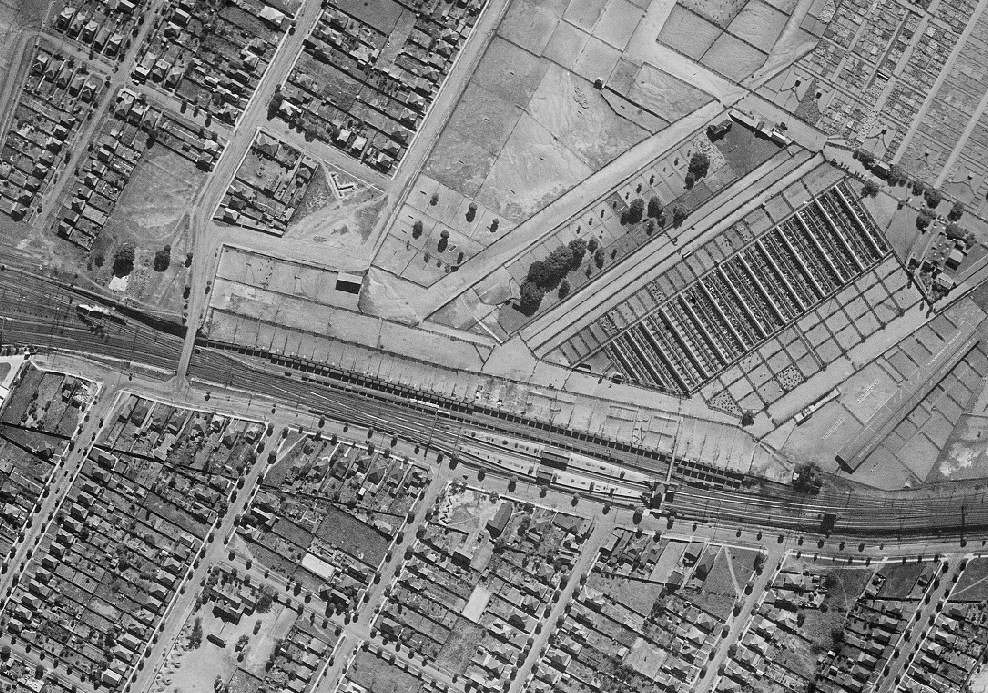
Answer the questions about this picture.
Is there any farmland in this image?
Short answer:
Yes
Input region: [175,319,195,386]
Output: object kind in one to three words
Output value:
bridge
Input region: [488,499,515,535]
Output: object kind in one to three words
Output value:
building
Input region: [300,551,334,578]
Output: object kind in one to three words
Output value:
building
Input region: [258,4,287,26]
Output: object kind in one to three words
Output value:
house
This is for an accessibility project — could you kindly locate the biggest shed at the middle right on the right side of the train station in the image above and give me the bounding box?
[832,328,976,464]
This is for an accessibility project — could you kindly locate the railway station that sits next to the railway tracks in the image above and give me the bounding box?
[458,430,652,498]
